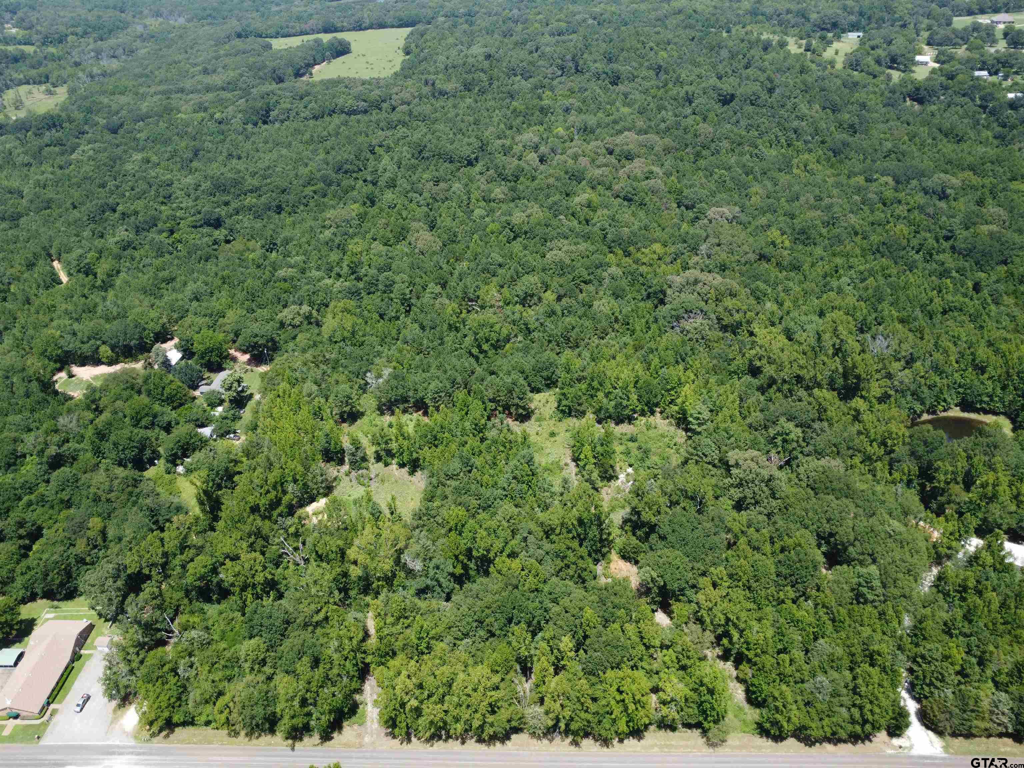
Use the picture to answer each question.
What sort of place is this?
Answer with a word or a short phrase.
forest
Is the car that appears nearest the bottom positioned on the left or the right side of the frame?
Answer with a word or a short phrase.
left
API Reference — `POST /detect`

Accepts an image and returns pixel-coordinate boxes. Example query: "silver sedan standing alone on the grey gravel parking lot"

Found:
[70,692,91,712]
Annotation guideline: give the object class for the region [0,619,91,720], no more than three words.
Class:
building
